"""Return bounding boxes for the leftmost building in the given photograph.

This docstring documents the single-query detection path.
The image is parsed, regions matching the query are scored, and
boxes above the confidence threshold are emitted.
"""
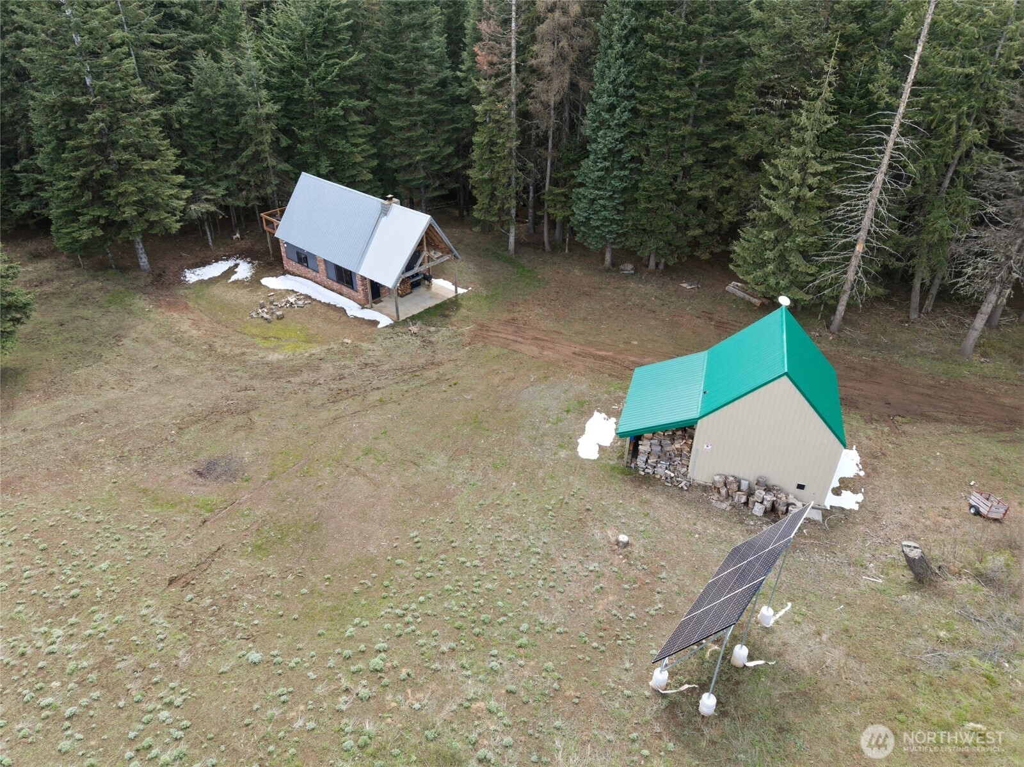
[261,171,462,324]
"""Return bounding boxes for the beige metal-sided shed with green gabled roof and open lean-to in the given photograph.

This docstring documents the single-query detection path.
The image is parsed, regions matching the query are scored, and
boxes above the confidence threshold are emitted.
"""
[616,304,848,519]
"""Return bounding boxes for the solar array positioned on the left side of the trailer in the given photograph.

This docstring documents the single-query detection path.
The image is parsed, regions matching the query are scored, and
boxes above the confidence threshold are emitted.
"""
[651,501,814,719]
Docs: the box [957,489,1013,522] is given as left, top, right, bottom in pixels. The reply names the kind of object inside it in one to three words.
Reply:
trailer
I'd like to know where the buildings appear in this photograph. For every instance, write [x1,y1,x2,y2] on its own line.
[261,171,462,324]
[616,304,848,519]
